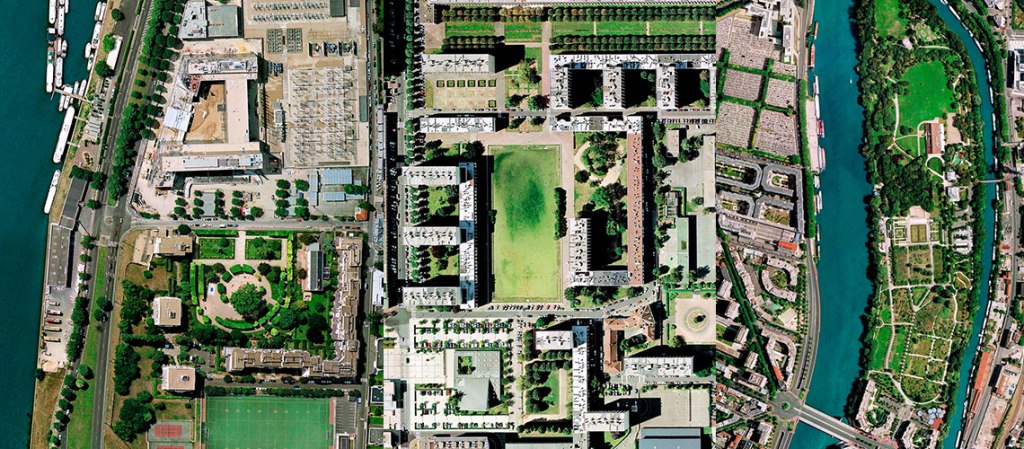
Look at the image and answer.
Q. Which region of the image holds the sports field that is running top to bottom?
center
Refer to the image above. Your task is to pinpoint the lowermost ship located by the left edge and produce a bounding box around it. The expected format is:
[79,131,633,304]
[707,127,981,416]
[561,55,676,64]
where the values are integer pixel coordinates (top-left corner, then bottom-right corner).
[44,169,60,214]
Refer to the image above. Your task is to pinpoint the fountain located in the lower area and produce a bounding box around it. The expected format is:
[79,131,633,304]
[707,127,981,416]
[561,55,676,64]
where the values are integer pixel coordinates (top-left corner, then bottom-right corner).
[686,309,708,331]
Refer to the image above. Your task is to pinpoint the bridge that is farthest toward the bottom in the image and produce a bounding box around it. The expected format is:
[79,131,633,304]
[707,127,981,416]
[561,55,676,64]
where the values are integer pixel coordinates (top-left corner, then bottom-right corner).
[797,405,897,449]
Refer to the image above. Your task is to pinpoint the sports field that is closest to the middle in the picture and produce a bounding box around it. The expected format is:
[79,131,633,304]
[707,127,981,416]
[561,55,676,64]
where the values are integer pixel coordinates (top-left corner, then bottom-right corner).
[491,145,561,305]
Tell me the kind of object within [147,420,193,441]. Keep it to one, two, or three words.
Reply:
tennis court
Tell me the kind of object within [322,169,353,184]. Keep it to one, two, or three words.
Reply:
shed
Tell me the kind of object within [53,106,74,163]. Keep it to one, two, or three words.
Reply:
ship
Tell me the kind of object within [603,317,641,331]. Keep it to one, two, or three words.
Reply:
house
